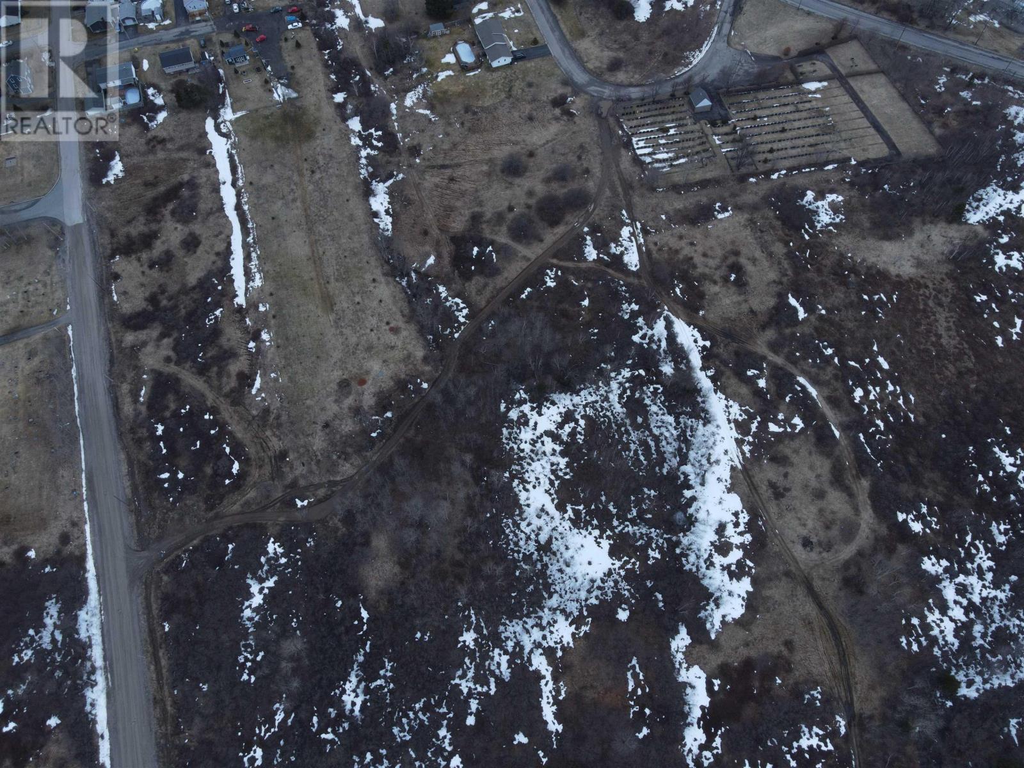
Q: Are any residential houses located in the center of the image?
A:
No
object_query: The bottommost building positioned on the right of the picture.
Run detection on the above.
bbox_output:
[690,86,712,115]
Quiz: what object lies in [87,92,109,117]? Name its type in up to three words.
building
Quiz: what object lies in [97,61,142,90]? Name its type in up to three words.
house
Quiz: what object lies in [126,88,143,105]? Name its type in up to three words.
swimming pool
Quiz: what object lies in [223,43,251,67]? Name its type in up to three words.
house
